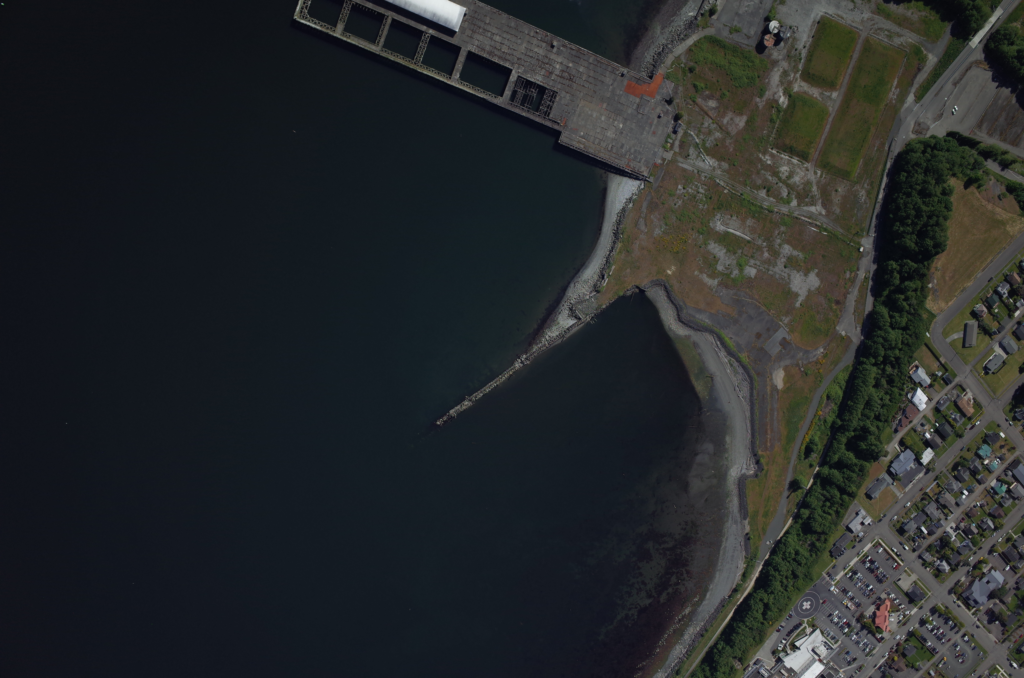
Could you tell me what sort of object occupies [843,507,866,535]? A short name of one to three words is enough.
house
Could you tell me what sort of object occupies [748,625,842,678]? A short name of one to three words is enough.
building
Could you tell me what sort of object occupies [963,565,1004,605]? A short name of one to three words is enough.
building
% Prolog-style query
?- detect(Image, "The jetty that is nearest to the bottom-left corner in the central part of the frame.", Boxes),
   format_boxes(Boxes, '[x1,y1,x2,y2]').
[436,318,584,424]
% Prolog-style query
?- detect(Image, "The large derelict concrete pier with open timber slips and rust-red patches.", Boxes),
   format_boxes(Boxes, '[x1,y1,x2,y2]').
[294,0,677,181]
